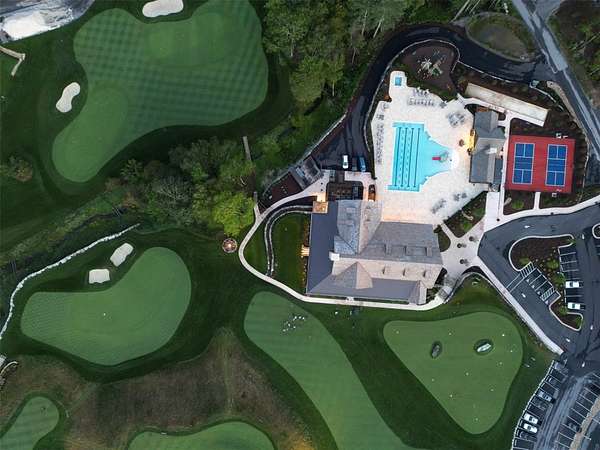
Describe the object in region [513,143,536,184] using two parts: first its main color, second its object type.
blue sports court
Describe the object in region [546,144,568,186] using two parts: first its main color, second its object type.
blue sports court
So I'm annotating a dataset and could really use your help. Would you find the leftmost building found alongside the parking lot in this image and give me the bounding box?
[306,200,440,305]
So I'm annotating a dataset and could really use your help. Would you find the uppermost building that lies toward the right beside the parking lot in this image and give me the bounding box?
[468,110,510,186]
